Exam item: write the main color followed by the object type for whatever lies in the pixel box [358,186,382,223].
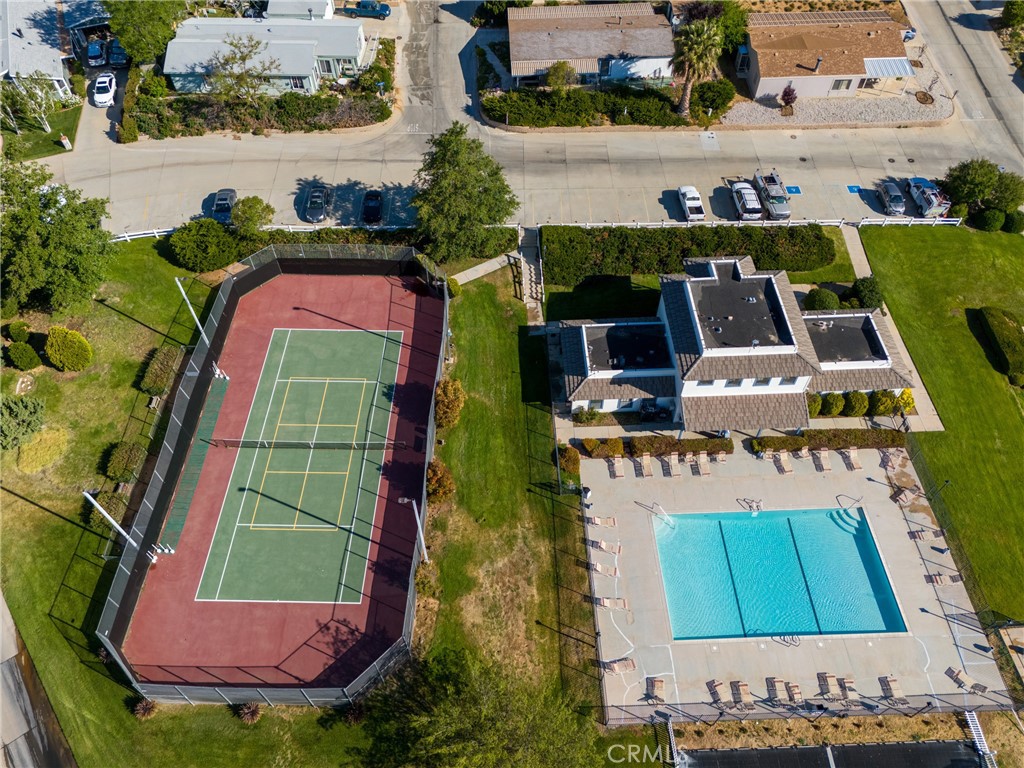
black car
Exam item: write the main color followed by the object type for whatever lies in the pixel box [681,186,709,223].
white truck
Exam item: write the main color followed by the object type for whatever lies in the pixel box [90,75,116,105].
white car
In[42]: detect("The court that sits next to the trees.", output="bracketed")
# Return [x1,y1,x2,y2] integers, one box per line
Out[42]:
[121,274,446,704]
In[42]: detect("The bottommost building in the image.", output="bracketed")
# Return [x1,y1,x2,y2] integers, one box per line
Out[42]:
[560,256,916,440]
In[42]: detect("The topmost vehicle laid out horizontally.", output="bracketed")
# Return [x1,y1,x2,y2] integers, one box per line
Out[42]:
[344,0,387,20]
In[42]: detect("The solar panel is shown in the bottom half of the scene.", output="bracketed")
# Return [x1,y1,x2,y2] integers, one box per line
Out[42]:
[675,736,995,768]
